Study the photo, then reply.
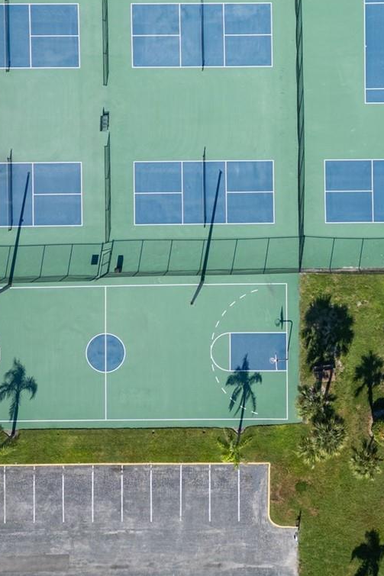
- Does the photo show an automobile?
No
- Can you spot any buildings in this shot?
No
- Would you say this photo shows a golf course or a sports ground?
sports ground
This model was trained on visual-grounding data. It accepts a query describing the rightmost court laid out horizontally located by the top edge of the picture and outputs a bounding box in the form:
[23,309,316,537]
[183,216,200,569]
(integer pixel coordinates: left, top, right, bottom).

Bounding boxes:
[130,1,273,67]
